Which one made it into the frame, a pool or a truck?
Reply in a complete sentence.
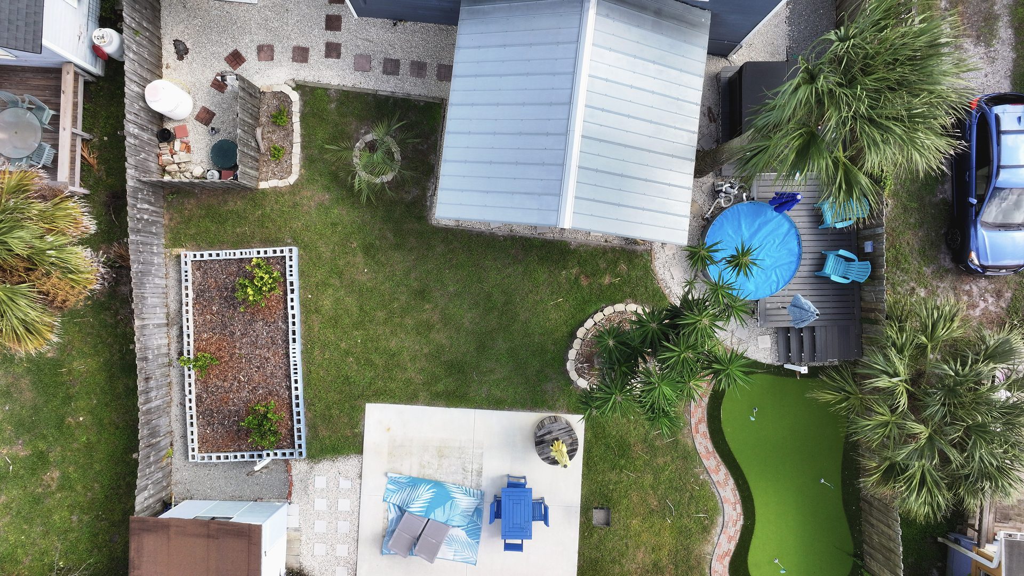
The image shows a pool.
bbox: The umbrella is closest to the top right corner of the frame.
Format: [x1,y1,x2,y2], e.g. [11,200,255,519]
[771,192,808,211]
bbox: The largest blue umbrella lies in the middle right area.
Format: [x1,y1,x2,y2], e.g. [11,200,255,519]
[785,293,823,338]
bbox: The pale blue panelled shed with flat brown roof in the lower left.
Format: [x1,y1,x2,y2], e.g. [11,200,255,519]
[128,500,289,576]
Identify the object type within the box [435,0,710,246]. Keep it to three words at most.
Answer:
building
